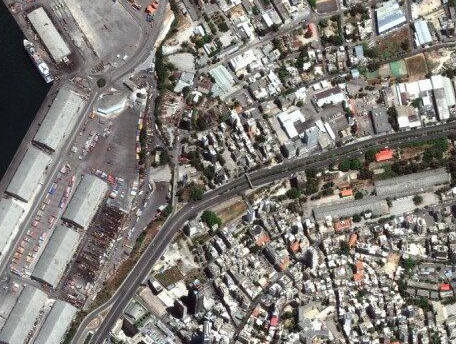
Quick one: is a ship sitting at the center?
No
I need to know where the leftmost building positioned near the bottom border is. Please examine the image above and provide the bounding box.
[0,284,47,344]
